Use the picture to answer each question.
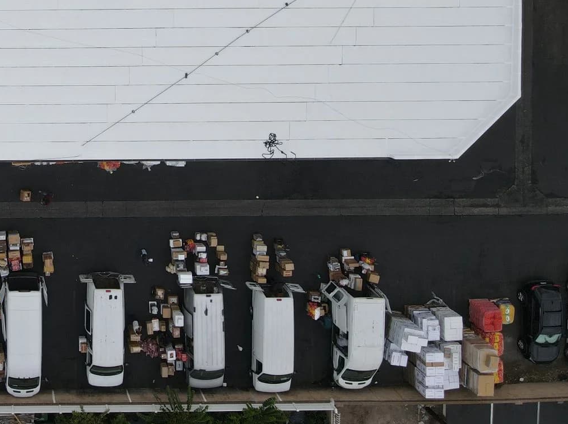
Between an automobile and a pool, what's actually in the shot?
automobile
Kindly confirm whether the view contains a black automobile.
Yes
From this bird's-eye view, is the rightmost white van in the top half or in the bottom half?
bottom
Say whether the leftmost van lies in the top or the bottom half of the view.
bottom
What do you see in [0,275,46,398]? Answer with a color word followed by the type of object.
white van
